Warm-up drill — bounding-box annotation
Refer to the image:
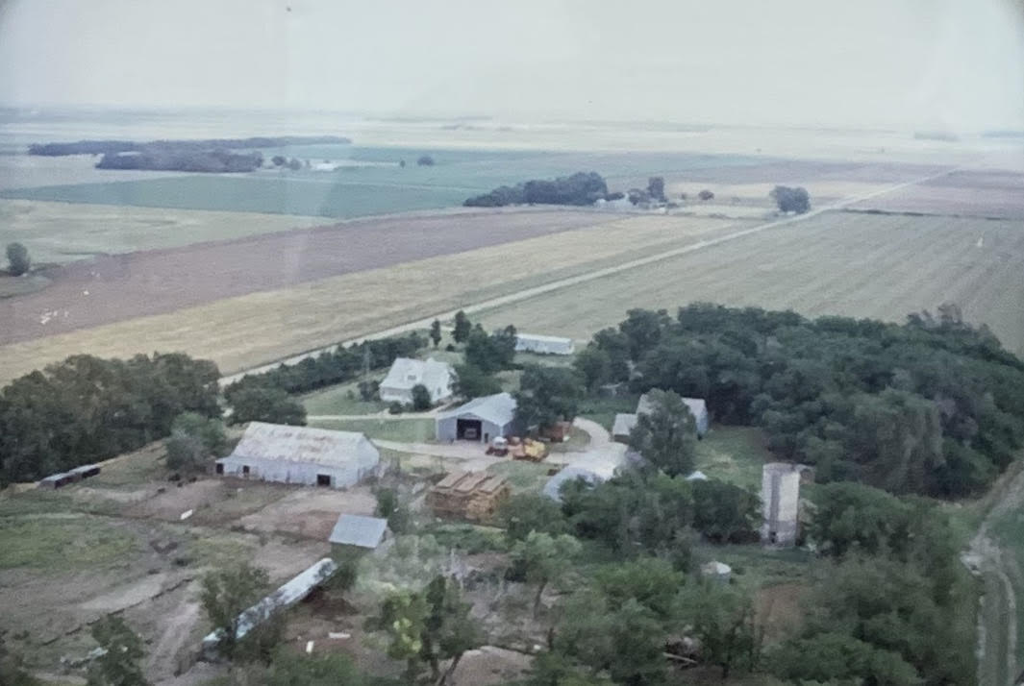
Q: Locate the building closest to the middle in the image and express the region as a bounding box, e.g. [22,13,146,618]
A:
[515,337,578,357]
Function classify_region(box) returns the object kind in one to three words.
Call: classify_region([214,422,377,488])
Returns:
barn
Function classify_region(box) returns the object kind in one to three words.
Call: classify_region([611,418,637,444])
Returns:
shed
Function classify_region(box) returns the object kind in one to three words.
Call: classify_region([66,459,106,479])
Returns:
shed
